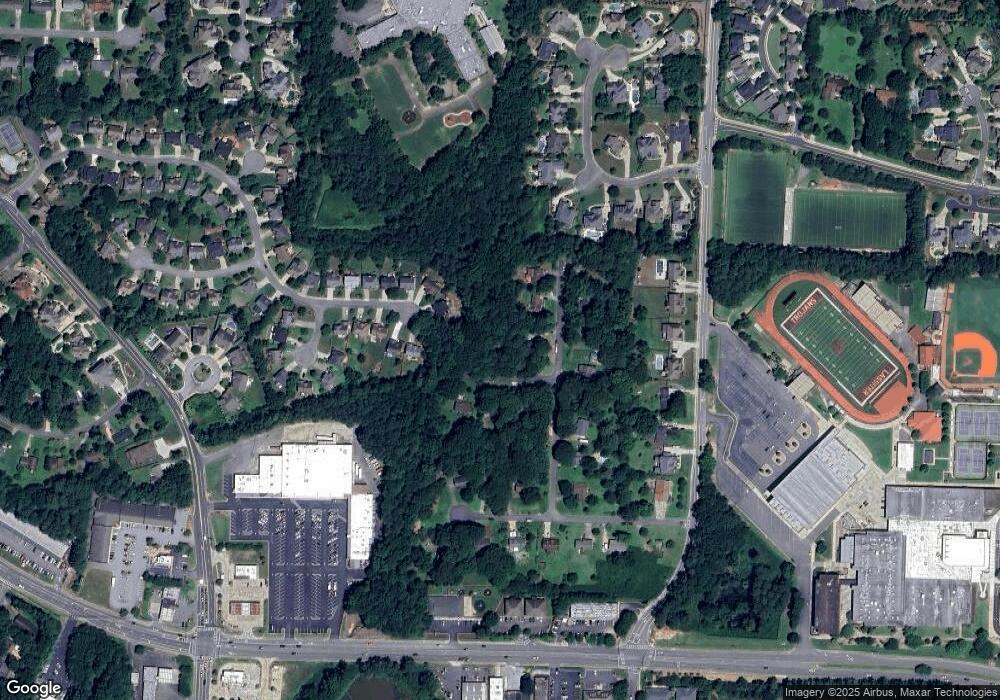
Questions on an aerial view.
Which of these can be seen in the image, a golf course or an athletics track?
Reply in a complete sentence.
Of the two, only an athletics track appears.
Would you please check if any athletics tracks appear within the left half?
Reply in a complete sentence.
No, there is no athletics track within the left half.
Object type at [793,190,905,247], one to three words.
sports field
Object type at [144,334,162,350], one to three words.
swimming pool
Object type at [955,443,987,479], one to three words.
tennis court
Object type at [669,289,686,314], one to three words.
house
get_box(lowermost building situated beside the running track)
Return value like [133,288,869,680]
[841,487,1000,627]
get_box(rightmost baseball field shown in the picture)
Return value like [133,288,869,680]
[942,284,1000,391]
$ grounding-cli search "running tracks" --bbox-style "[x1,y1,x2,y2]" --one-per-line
[744,271,910,425]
